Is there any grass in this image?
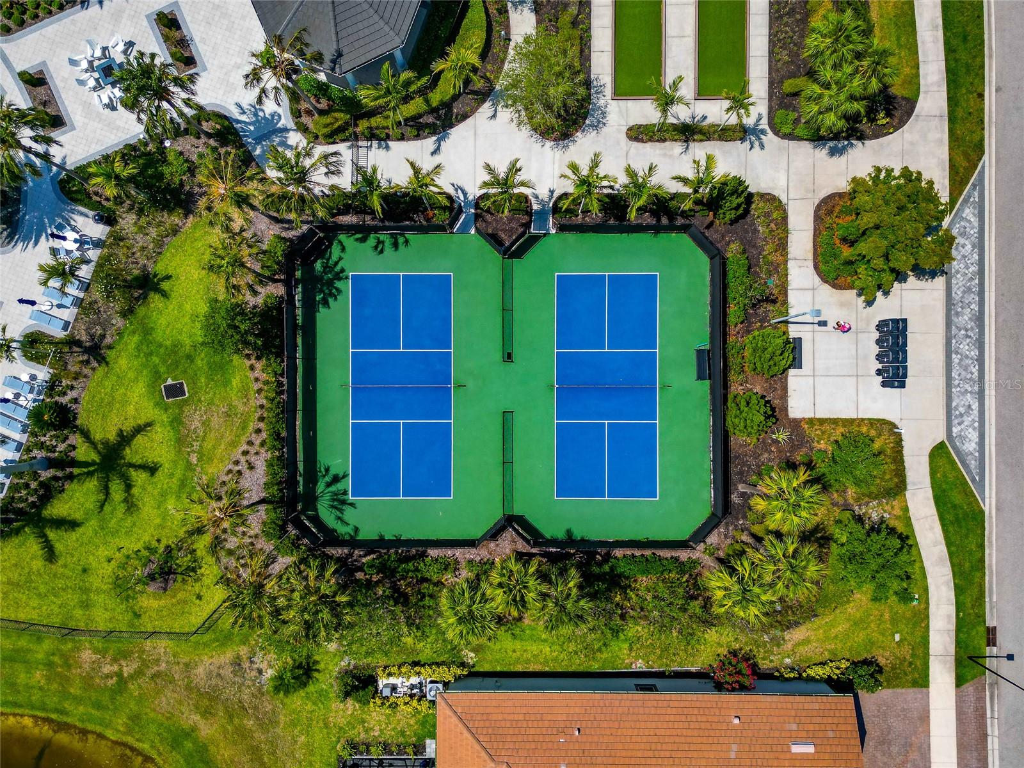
Yes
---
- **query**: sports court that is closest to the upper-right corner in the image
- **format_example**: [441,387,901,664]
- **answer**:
[694,0,749,100]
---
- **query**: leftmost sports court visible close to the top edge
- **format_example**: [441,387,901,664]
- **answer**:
[612,0,665,100]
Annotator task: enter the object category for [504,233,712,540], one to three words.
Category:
sports court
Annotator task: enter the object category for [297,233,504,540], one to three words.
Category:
sports court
